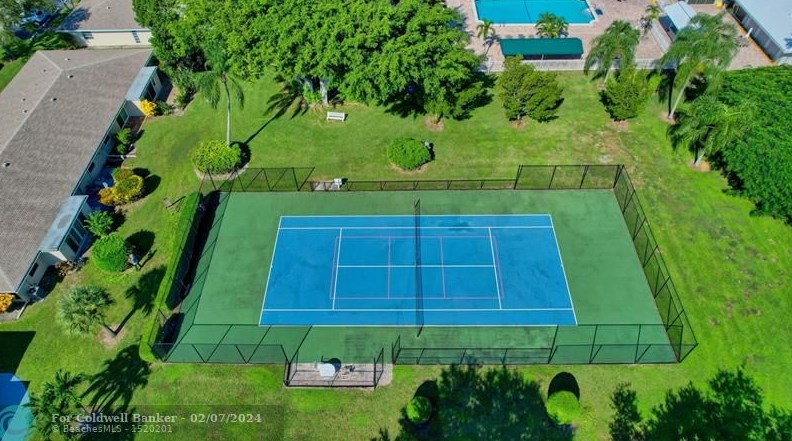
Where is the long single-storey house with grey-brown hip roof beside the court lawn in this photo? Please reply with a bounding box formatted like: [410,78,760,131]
[0,49,163,304]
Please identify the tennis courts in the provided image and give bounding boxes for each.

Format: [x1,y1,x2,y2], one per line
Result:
[172,189,675,361]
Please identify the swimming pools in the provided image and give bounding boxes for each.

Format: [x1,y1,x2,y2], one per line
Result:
[474,0,599,23]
